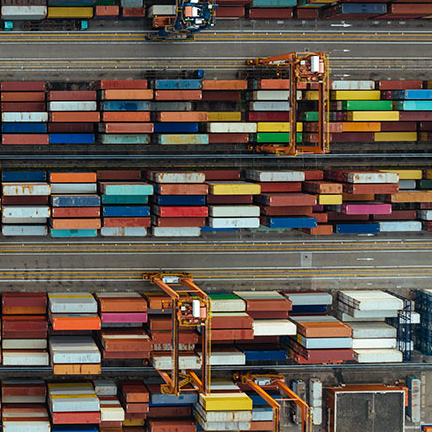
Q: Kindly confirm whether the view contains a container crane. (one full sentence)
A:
Yes, a container crane appears in the view.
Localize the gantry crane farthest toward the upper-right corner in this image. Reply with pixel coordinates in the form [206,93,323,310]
[250,51,333,156]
